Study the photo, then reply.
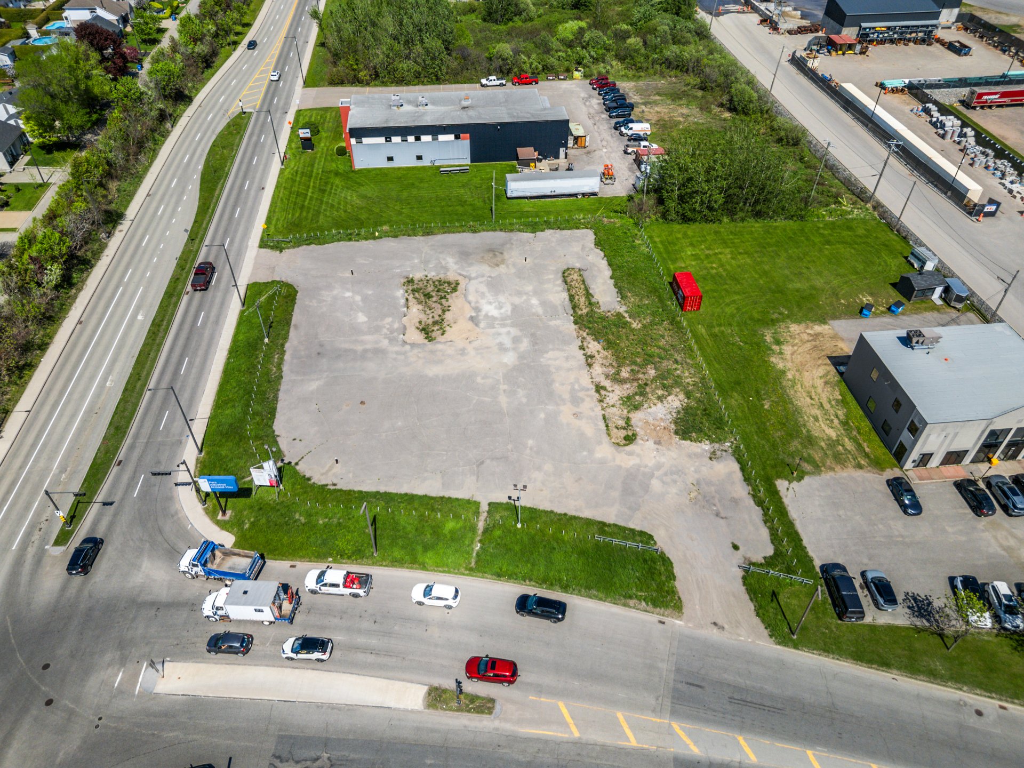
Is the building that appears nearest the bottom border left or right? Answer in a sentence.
The building that appears nearest the bottom border is on the right side of the image.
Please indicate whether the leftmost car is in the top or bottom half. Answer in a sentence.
The leftmost car is in the bottom half of the image.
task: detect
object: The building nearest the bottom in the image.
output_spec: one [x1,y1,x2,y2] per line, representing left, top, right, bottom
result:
[841,322,1024,469]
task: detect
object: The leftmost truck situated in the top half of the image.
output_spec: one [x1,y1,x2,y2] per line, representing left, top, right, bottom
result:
[191,263,214,289]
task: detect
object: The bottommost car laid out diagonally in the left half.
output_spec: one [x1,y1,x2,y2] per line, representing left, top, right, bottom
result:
[65,535,107,578]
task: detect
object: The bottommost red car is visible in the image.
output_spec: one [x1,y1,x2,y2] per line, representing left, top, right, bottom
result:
[464,656,520,687]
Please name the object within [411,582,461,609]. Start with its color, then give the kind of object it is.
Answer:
white car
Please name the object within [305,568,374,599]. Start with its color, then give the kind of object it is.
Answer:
white truck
